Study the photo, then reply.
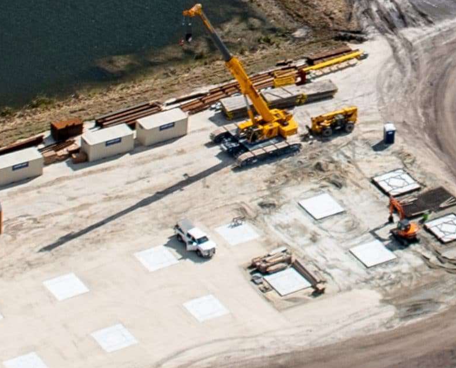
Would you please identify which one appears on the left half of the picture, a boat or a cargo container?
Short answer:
cargo container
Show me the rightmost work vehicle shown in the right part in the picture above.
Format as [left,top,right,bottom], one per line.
[389,198,421,243]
